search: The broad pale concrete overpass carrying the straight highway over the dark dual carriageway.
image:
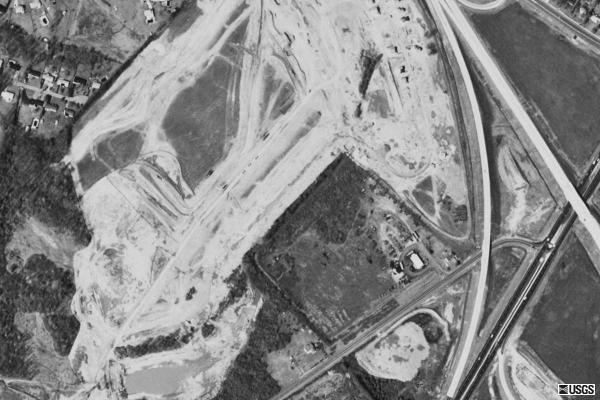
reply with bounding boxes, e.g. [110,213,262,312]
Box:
[555,174,600,233]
